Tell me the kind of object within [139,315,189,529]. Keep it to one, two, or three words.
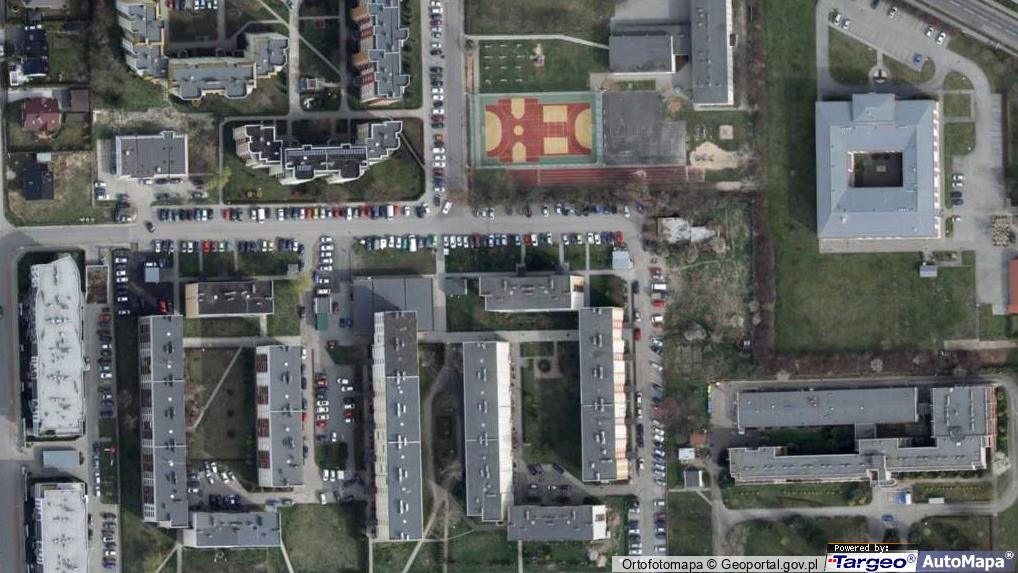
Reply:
building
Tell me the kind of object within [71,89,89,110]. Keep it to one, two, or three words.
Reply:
house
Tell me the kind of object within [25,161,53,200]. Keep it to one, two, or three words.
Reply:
house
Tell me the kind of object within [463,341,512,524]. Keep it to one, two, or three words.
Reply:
building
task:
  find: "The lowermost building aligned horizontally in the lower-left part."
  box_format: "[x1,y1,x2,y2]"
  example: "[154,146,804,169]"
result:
[185,512,281,549]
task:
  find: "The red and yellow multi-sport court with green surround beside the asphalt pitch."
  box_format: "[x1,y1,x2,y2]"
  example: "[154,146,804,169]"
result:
[471,90,602,169]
